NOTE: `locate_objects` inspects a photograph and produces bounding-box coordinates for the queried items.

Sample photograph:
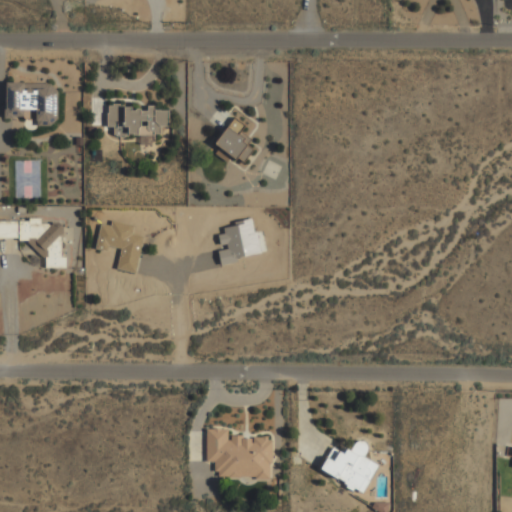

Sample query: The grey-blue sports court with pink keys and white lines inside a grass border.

[10,158,47,202]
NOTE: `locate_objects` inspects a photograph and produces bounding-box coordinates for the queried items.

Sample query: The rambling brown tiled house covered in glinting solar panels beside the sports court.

[4,82,58,130]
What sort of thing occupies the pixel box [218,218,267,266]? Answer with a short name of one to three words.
house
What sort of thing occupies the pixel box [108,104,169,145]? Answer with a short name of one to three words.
house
